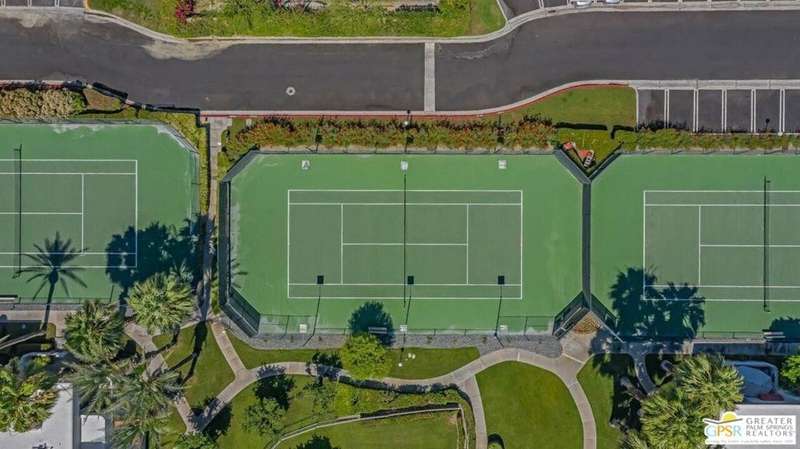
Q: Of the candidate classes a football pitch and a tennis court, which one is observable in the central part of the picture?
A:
tennis court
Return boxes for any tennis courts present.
[0,123,198,302]
[590,155,800,337]
[229,154,583,334]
